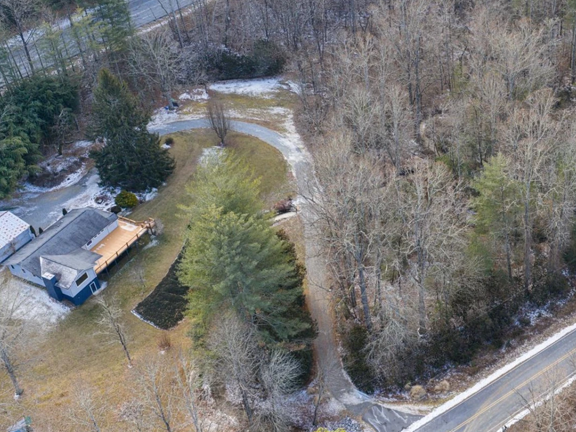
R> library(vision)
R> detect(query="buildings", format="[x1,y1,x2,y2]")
[0,211,32,260]
[3,207,161,306]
